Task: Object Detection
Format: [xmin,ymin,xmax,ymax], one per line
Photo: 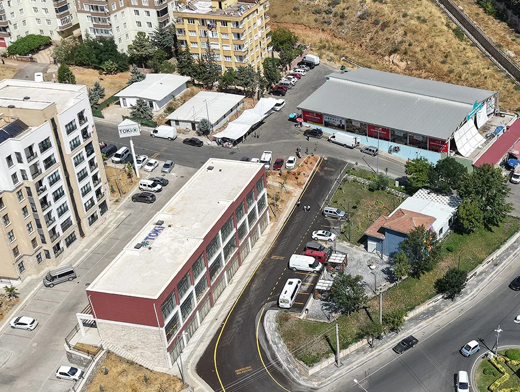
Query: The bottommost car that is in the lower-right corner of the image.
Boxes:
[455,368,471,392]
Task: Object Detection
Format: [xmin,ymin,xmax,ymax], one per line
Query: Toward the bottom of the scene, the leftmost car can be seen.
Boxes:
[8,317,40,332]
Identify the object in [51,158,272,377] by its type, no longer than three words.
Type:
building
